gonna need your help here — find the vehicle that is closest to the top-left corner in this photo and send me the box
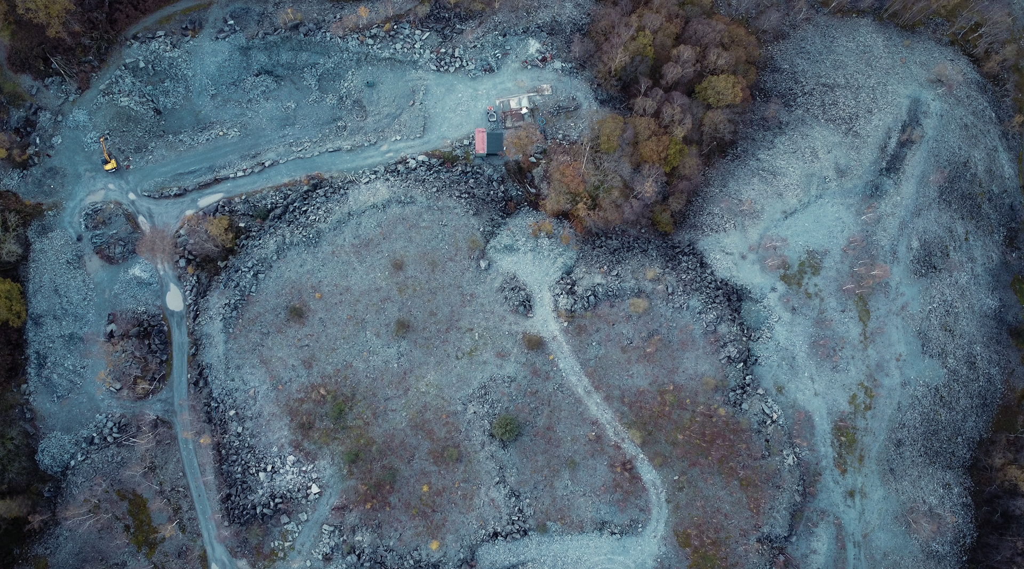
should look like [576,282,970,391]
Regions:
[99,138,121,175]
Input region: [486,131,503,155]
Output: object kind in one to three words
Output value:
shed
